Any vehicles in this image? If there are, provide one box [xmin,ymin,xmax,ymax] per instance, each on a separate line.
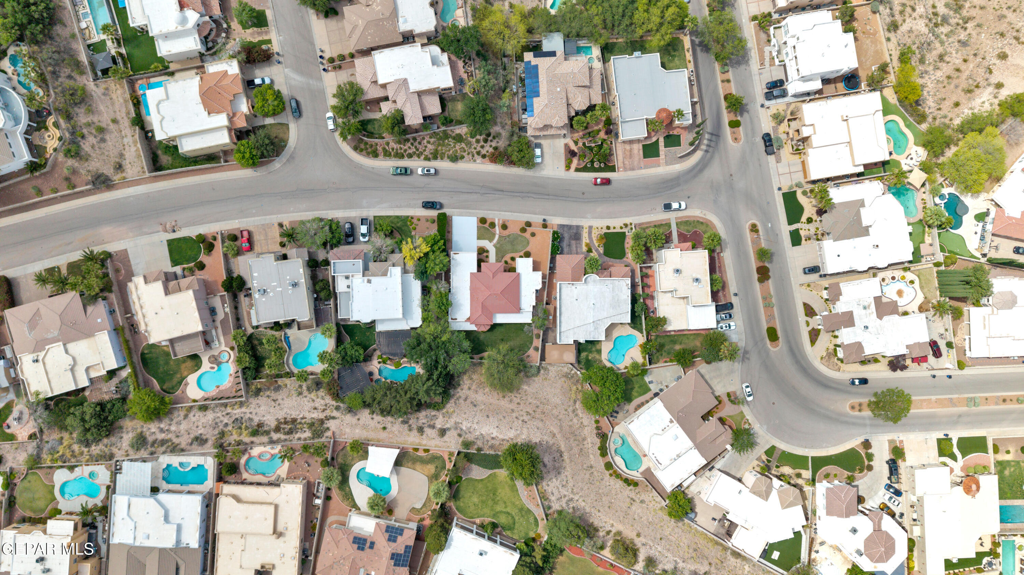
[1010,246,1024,255]
[849,378,868,386]
[239,229,251,252]
[592,178,610,185]
[764,88,784,100]
[423,201,441,209]
[742,383,753,401]
[715,302,735,313]
[888,460,899,483]
[802,265,817,274]
[326,112,337,131]
[534,141,543,164]
[662,202,685,210]
[765,79,781,89]
[360,219,369,241]
[247,77,270,87]
[884,483,903,498]
[929,338,945,361]
[290,98,301,118]
[418,167,436,175]
[763,134,775,157]
[879,502,896,519]
[857,496,867,505]
[716,312,734,321]
[717,322,736,330]
[883,493,901,508]
[392,167,410,175]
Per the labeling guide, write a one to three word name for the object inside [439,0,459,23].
swimming pool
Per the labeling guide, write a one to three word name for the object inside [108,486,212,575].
house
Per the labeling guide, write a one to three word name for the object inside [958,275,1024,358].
house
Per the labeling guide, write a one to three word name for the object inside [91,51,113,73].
gazebo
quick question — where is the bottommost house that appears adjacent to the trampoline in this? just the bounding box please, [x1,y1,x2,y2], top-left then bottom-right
[795,91,890,183]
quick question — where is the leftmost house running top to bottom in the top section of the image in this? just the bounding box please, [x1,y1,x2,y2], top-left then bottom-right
[0,84,43,174]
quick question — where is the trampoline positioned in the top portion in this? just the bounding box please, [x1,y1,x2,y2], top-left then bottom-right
[843,73,860,90]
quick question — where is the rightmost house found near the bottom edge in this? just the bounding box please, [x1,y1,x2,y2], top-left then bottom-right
[900,460,1000,575]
